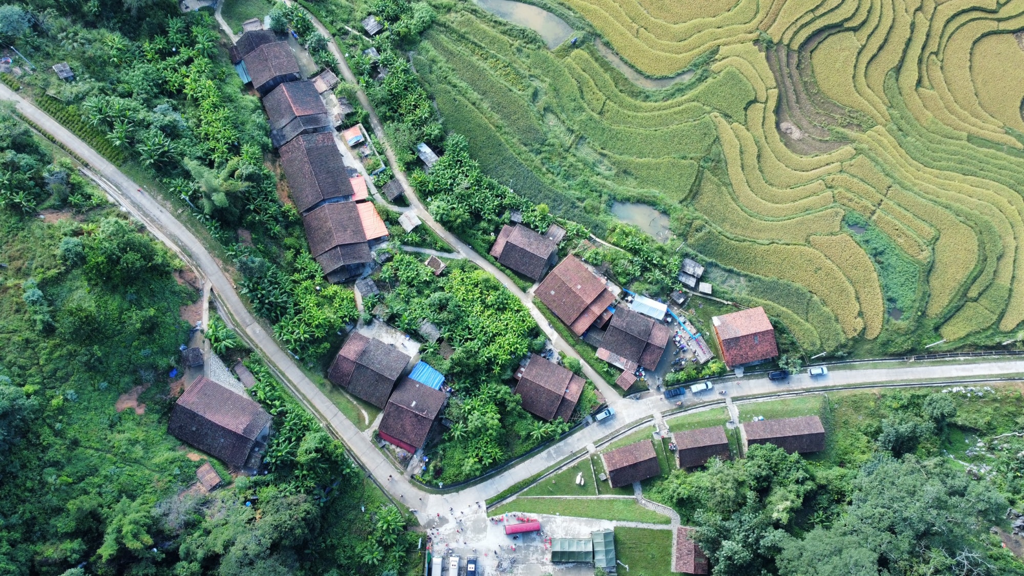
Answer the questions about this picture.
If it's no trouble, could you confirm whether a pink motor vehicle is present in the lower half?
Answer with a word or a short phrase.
Yes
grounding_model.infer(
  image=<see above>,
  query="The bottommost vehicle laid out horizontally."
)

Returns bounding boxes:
[501,519,543,538]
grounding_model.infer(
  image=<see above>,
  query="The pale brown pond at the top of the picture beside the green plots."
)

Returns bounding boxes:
[478,0,573,49]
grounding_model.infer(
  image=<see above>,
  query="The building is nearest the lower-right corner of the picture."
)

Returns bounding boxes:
[743,414,826,454]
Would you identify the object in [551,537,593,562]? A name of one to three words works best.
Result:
tent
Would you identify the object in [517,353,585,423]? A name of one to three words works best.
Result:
house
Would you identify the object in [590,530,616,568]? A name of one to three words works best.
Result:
tent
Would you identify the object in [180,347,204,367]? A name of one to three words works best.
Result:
shed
